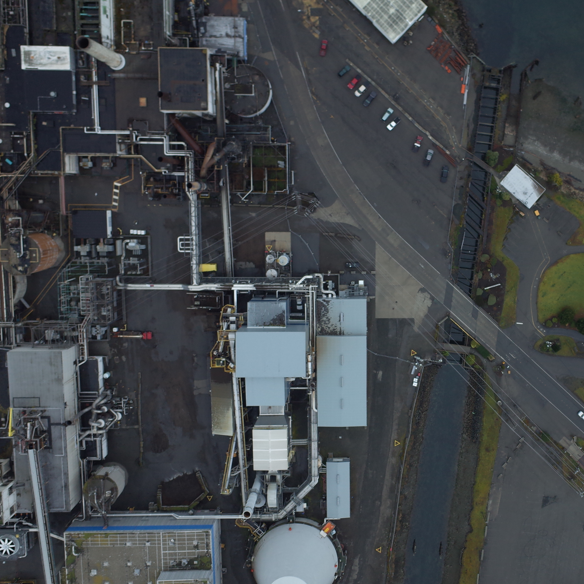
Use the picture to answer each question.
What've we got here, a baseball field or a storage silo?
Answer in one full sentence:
The one in the frame is a storage silo.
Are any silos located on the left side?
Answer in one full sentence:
Yes, a silo can be seen on the left side.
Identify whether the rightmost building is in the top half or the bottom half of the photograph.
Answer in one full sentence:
Seen from above, the rightmost building lies in the top half of the view.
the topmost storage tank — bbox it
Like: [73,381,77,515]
[226,59,274,115]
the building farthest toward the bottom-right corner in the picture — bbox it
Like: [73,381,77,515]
[326,455,351,519]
